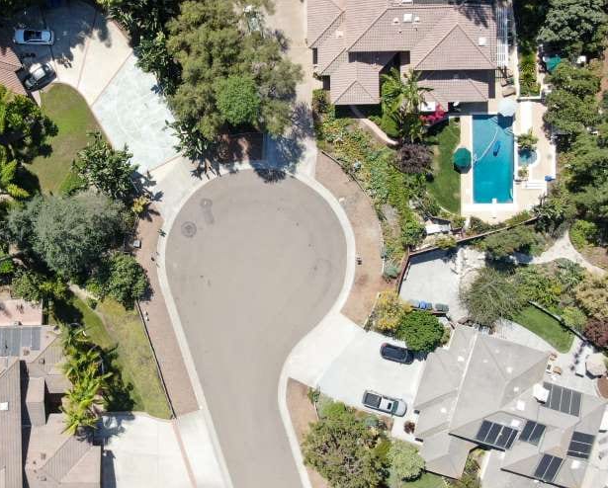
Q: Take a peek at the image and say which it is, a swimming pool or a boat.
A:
swimming pool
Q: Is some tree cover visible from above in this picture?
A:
Yes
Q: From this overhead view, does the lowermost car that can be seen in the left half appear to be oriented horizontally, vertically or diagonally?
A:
diagonally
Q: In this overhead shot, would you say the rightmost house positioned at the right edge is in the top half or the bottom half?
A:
bottom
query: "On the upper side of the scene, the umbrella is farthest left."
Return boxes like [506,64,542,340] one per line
[452,150,470,168]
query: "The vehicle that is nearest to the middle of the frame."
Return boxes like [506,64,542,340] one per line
[379,343,415,364]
